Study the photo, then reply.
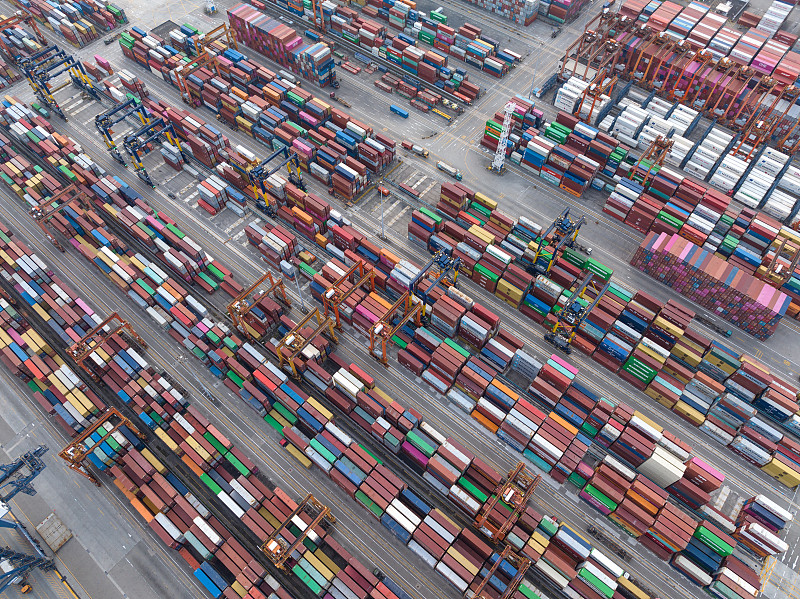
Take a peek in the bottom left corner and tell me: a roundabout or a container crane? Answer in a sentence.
What appears in the bottom left corner is a container crane.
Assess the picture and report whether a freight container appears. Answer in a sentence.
Yes, a freight container appears in the view.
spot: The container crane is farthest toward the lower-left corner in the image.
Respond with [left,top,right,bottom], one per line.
[0,437,59,587]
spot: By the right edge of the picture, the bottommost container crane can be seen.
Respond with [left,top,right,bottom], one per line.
[759,238,800,294]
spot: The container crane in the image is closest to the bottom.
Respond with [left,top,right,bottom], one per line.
[465,540,533,599]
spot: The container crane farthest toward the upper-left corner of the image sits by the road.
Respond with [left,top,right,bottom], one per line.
[0,11,55,66]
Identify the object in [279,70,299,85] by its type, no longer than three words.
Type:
vehicle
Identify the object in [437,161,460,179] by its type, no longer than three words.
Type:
vehicle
